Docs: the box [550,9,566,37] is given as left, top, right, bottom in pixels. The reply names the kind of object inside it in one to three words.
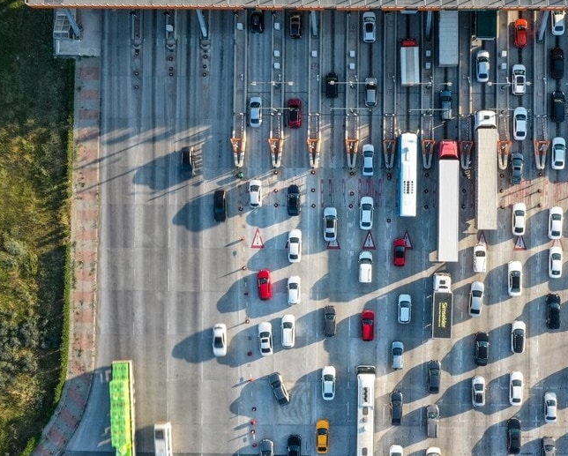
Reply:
car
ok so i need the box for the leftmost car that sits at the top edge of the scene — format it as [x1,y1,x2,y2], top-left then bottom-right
[249,9,266,34]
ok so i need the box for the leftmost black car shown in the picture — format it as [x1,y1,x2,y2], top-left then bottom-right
[180,146,196,179]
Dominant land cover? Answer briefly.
paved ground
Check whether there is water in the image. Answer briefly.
No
